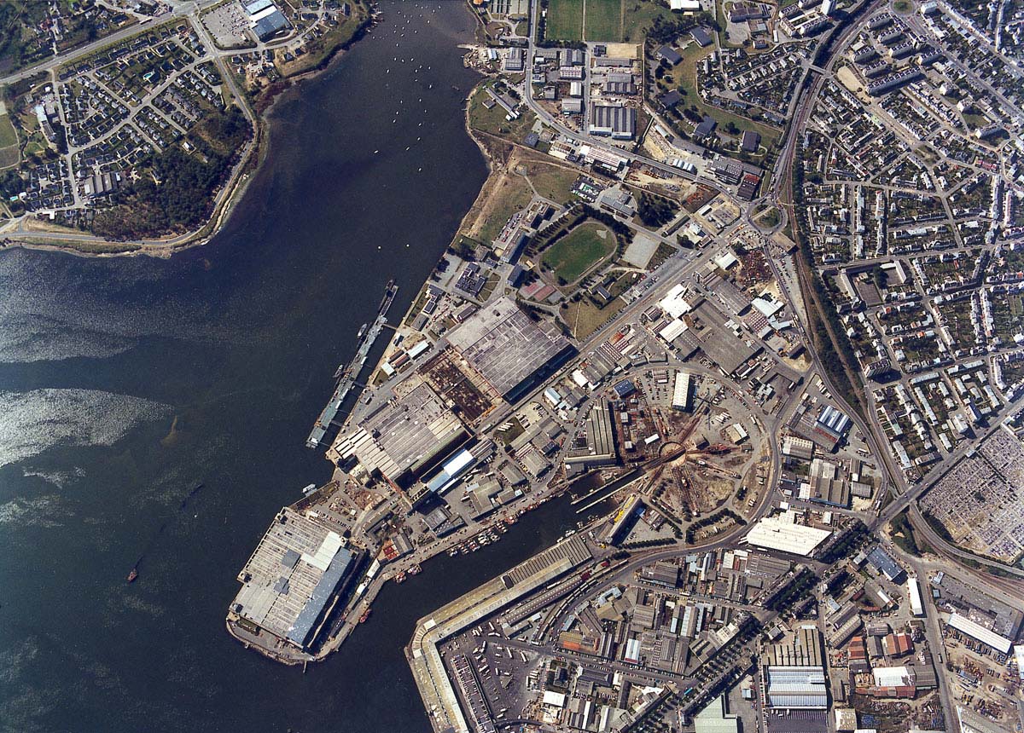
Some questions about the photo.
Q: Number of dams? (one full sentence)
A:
There are no dams in the image.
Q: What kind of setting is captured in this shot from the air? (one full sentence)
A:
What you see here is a port.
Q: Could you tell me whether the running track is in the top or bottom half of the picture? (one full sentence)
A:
You can find the running track in the top half.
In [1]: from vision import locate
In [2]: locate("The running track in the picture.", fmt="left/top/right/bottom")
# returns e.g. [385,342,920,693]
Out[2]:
[542,221,618,284]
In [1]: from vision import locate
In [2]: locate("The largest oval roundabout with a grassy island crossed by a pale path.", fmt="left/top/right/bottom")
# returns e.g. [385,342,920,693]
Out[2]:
[745,198,790,236]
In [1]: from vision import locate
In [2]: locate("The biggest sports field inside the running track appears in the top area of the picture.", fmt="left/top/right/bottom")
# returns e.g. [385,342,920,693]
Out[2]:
[546,225,615,280]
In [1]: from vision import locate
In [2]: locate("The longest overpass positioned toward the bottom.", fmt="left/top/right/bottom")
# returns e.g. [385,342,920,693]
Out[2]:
[881,477,931,519]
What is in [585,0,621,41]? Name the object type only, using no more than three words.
sports field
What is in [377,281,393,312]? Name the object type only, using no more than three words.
ship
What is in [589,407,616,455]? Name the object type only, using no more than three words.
building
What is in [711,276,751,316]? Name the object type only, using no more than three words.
shed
